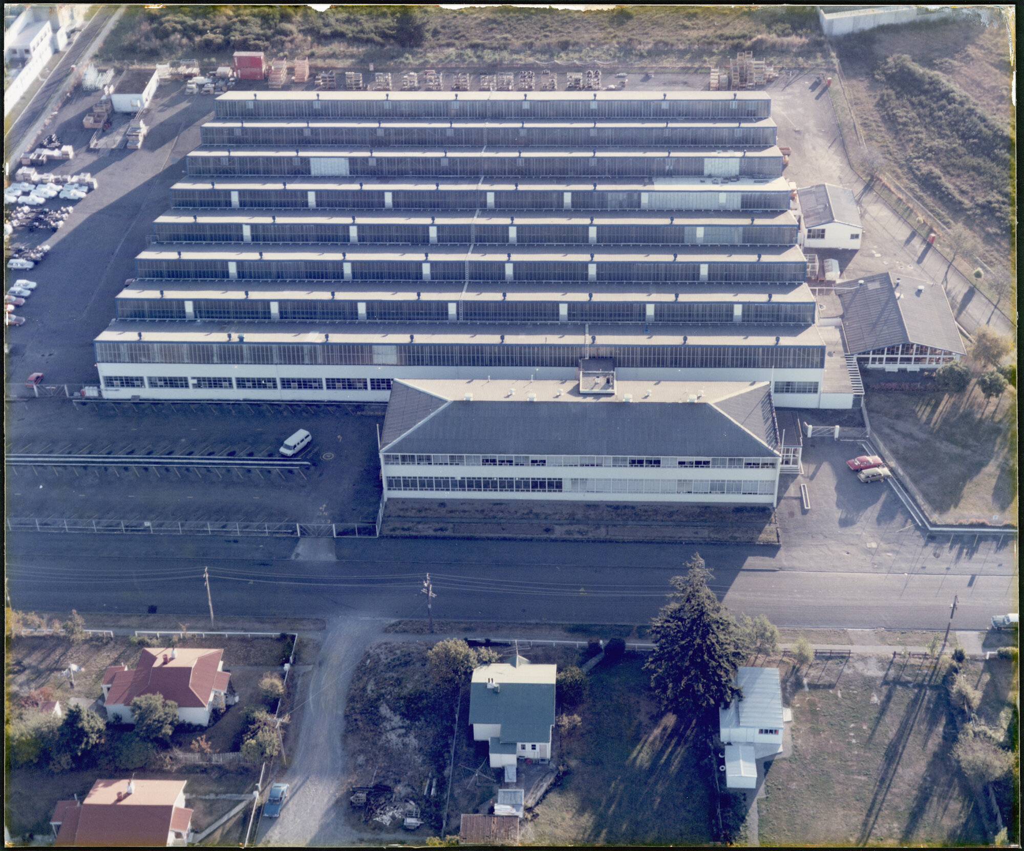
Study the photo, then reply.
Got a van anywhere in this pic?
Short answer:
Yes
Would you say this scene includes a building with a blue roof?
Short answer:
Yes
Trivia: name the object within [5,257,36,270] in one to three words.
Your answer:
vehicle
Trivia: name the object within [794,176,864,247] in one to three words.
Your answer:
building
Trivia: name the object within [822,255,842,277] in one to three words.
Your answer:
shed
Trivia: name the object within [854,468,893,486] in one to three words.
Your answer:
car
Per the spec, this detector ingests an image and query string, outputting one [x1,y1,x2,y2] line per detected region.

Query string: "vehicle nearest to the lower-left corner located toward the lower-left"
[263,783,289,825]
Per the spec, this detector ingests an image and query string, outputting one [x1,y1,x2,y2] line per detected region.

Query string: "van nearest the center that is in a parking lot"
[279,429,313,460]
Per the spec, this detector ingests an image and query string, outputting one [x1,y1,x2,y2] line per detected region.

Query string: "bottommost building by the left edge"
[43,779,197,851]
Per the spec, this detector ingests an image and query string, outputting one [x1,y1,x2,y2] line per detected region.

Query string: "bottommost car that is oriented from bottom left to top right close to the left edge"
[22,371,48,389]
